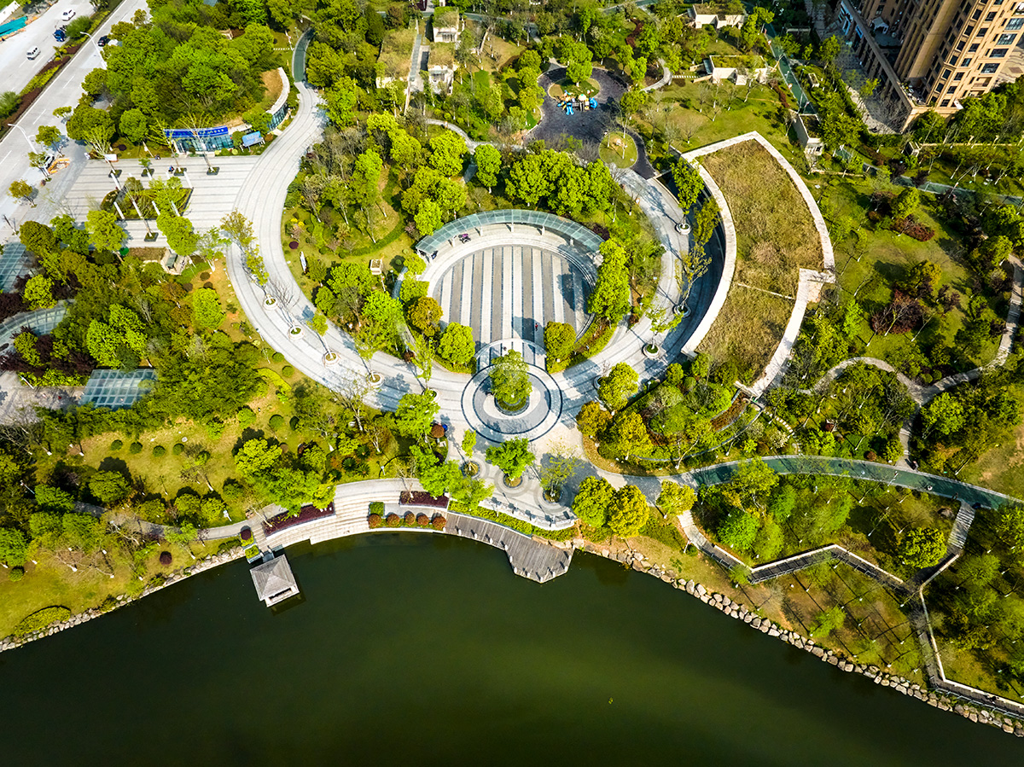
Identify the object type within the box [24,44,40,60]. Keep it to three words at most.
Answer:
vehicle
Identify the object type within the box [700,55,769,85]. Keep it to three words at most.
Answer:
house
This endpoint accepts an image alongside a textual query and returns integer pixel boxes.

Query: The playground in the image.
[523,67,656,179]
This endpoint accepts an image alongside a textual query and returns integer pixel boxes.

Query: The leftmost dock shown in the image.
[446,514,575,585]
